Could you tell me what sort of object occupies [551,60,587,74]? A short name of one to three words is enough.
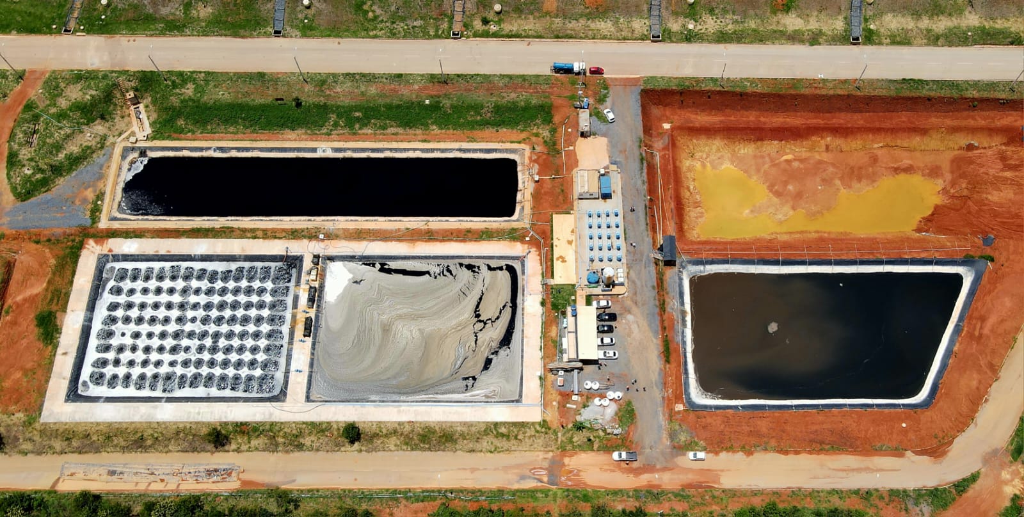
vehicle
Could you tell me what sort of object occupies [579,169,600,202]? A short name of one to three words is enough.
building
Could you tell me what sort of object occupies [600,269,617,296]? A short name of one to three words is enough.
silo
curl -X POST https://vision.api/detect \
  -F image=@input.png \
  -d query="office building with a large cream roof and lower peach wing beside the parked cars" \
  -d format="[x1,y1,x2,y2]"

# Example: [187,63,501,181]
[563,306,598,363]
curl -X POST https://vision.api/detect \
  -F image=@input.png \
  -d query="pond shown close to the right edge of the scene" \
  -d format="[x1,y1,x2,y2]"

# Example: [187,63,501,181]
[675,257,989,412]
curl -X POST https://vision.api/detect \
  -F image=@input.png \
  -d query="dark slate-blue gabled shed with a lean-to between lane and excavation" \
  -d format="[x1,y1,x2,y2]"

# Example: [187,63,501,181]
[657,235,676,263]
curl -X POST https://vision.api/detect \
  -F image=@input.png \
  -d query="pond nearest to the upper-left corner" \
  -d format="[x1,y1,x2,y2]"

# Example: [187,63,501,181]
[109,146,520,223]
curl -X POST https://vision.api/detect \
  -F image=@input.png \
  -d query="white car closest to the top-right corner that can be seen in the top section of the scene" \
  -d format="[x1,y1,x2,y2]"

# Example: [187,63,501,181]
[603,108,617,122]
